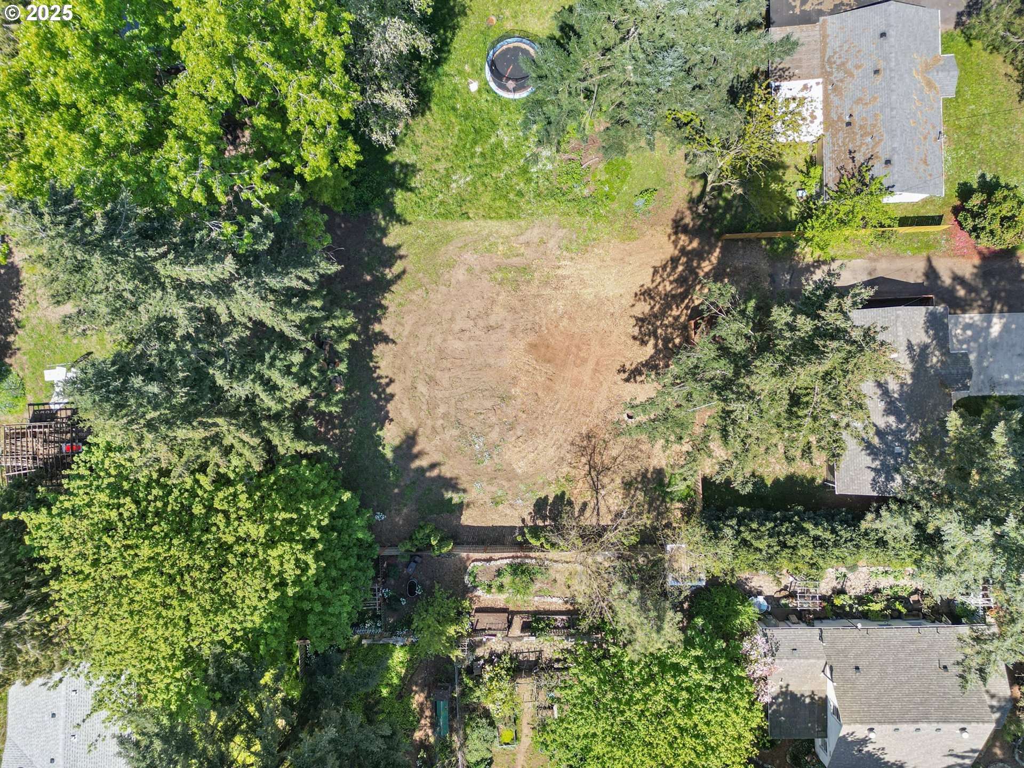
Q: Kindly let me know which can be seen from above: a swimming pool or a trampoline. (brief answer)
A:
trampoline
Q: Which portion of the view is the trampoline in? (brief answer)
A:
top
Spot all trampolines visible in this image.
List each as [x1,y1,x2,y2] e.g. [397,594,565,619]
[484,30,542,97]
